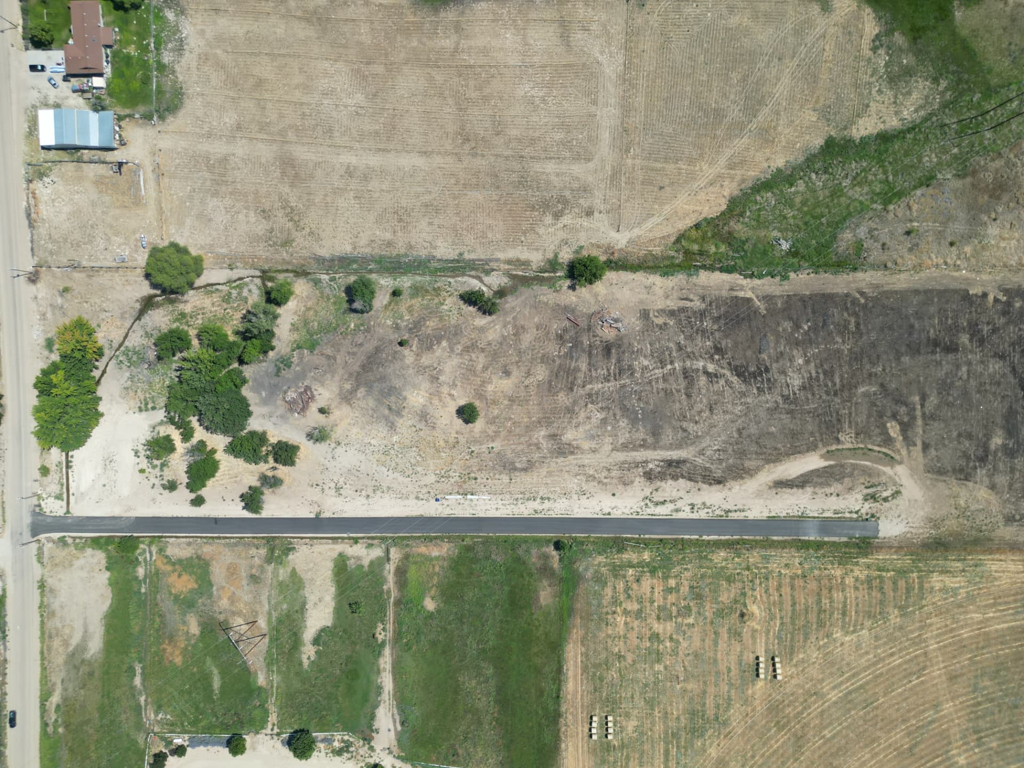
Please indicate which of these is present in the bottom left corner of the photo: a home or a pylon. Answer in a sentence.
The one visible in the bottom left corner of the photo is a pylon.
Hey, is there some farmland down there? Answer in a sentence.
Yes, there's farmland in this view.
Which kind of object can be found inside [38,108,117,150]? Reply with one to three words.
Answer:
barn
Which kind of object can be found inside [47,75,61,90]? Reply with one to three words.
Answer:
car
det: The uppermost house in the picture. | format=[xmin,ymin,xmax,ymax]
[64,1,117,77]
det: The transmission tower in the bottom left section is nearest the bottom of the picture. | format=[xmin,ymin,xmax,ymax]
[232,620,267,663]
